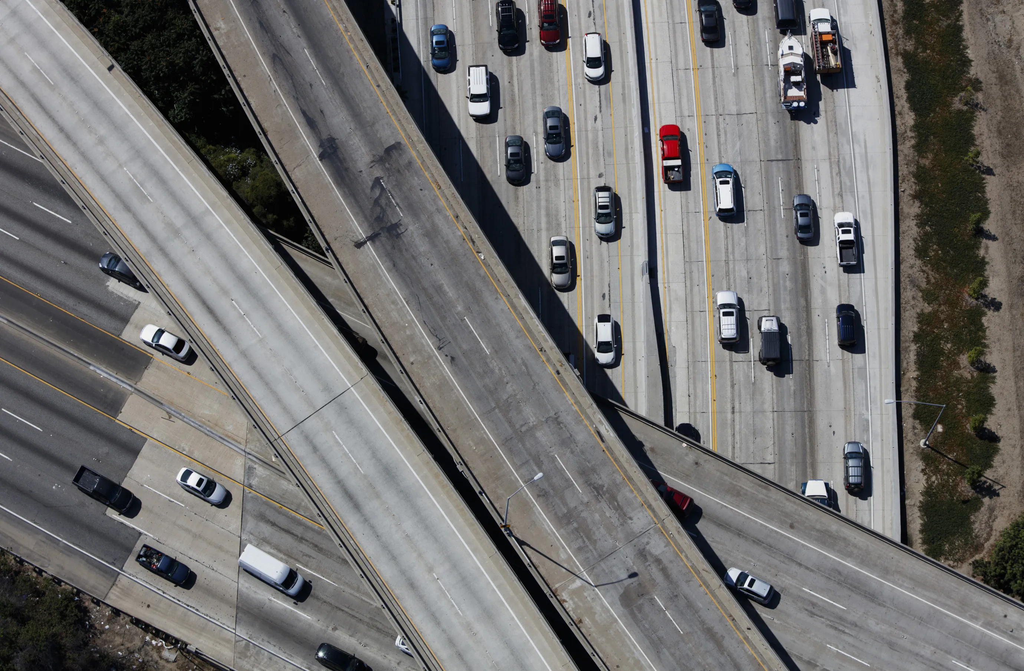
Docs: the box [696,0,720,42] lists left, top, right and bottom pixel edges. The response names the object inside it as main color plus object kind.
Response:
black car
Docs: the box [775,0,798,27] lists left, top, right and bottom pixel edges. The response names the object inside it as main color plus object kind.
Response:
black truck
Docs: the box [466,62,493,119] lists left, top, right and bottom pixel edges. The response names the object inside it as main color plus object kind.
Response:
white car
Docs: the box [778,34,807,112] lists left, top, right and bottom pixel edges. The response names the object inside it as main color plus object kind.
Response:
white boat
